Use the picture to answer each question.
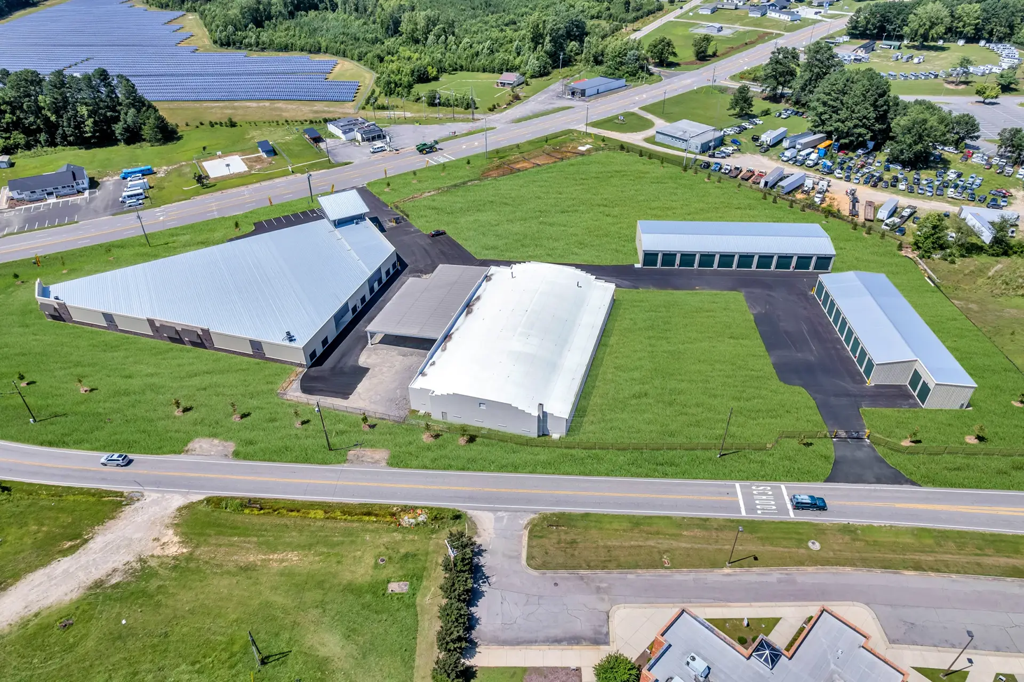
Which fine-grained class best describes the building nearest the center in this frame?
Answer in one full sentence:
The building nearest the center appears to be a warehouse.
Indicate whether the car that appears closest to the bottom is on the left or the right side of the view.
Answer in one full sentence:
The car that appears closest to the bottom appears in the right half of the scene.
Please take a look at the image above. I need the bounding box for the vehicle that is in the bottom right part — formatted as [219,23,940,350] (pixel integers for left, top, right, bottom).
[789,490,831,511]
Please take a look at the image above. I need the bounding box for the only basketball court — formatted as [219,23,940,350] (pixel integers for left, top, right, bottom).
[202,155,248,178]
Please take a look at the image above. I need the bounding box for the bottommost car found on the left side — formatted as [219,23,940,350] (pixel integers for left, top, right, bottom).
[97,450,131,467]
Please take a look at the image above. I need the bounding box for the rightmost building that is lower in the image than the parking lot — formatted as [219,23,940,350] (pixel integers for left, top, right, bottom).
[812,272,979,413]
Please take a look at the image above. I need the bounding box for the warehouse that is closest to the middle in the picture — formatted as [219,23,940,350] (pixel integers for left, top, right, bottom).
[408,263,615,444]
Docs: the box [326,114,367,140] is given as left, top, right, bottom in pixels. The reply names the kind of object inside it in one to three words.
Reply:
building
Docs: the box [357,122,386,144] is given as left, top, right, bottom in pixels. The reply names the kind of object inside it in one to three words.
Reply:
building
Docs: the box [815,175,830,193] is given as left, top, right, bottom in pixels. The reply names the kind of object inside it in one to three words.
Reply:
vehicle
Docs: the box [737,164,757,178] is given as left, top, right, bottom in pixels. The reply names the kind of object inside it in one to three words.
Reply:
vehicle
